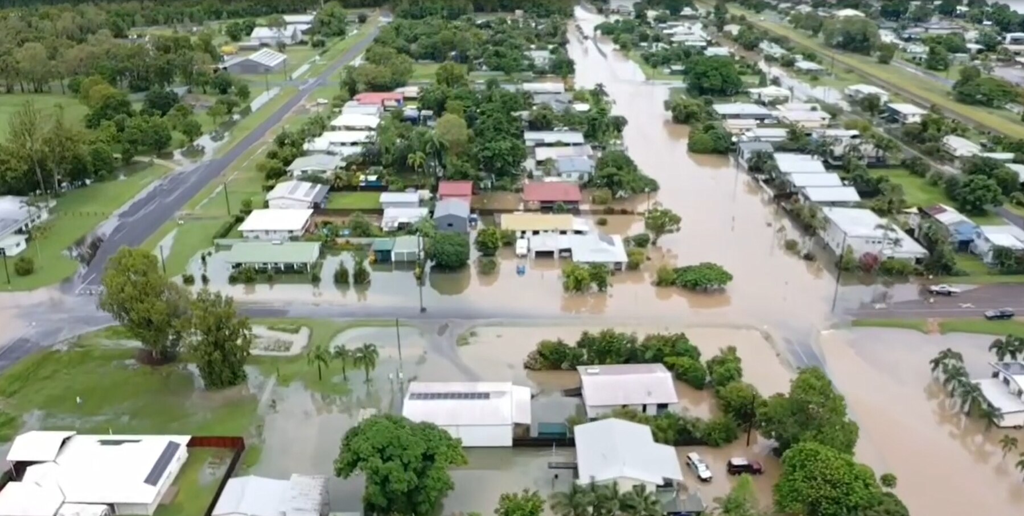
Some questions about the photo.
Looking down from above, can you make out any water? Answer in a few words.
Yes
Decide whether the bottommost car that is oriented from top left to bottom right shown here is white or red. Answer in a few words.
white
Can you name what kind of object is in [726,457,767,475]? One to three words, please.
car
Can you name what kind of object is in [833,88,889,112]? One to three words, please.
house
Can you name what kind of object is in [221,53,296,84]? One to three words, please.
shed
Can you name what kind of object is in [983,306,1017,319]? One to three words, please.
vehicle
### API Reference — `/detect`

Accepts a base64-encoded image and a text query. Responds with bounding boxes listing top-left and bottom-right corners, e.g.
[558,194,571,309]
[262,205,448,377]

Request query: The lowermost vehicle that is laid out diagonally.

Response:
[683,450,717,480]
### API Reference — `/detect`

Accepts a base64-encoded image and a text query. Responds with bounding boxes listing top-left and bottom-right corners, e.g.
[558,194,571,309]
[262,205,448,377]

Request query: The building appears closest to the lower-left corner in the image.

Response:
[0,427,198,516]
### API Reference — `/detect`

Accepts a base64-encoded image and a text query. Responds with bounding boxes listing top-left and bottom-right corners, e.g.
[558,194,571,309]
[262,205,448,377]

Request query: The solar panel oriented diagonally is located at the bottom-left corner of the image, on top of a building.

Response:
[150,444,185,484]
